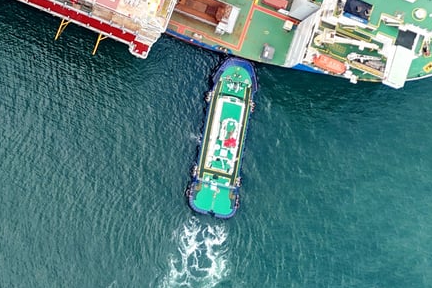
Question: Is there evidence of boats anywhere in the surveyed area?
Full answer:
Yes, I can see a boat in this picture.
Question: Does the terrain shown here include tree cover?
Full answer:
No, there's no tree cover in this view.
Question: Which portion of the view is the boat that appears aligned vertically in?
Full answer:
The boat that appears aligned vertically is in the center part of the image.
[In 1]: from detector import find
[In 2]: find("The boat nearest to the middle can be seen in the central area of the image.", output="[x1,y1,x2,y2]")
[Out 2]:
[188,57,261,222]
